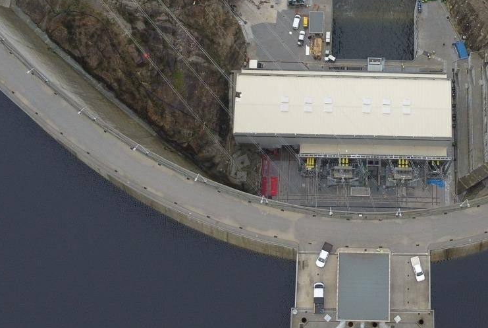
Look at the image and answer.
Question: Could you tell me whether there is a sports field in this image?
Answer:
No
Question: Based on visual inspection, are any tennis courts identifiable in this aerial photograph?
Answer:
No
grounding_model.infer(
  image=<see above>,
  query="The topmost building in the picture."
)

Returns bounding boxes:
[309,12,323,36]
